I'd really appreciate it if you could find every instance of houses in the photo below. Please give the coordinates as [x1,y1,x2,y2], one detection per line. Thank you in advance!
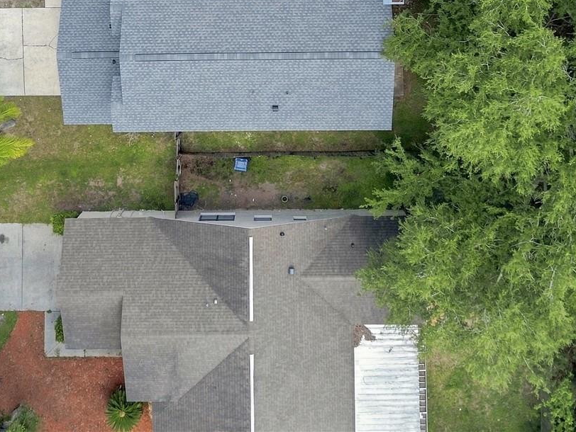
[58,207,418,432]
[58,0,405,131]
